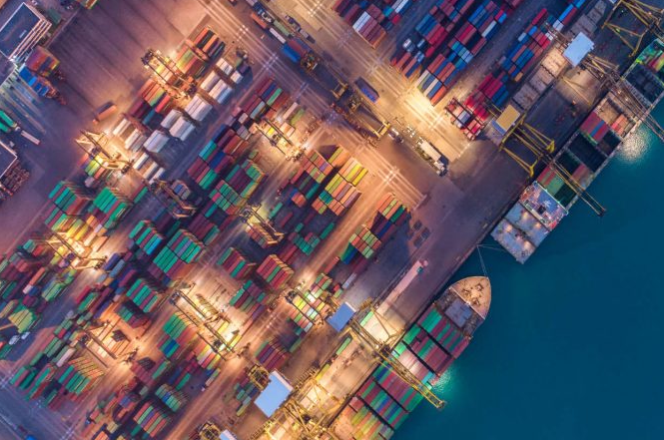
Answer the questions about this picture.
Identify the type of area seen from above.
port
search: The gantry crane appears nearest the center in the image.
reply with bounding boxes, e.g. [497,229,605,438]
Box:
[244,208,293,246]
